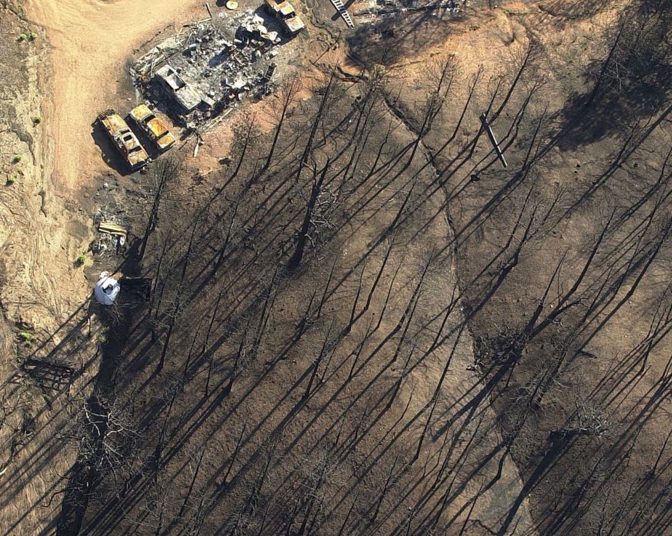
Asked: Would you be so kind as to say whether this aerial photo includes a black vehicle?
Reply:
No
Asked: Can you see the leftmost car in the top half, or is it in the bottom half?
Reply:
top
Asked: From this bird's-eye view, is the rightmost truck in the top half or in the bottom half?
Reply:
top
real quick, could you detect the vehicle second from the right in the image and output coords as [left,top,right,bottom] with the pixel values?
[153,64,204,115]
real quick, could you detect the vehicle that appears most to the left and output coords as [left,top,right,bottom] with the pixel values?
[99,114,149,169]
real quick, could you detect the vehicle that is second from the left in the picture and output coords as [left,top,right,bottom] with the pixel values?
[129,105,174,153]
